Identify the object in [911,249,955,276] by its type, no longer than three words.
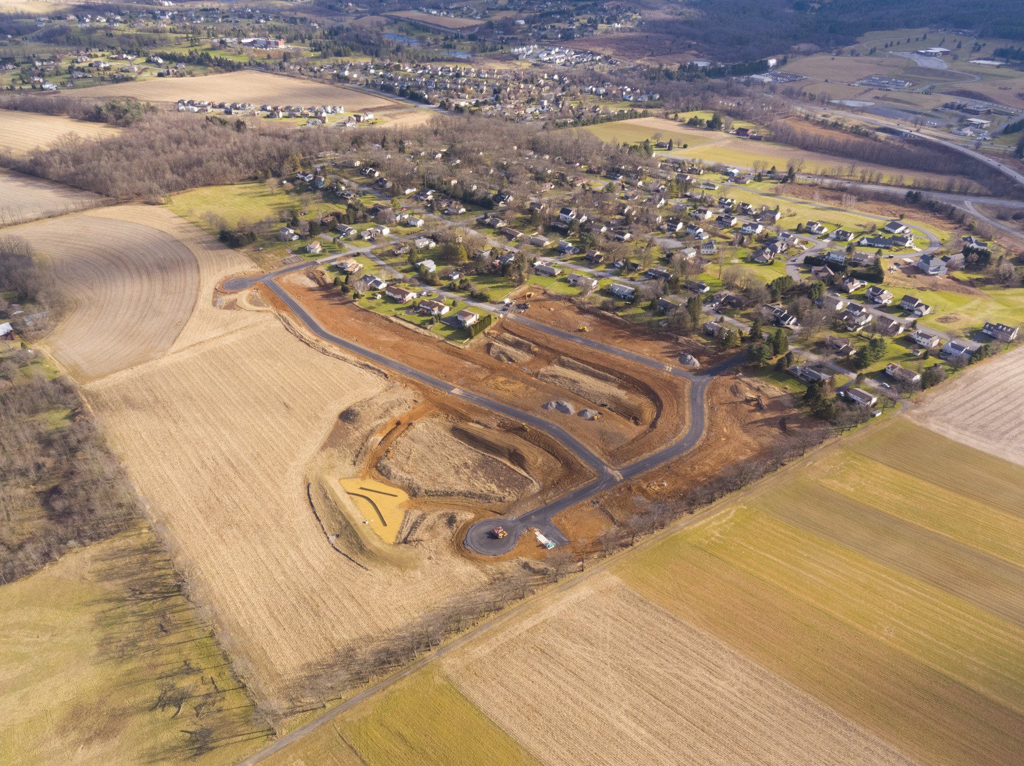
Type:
house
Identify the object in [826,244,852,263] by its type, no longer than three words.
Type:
house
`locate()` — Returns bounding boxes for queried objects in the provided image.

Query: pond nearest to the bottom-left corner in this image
[340,480,410,543]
